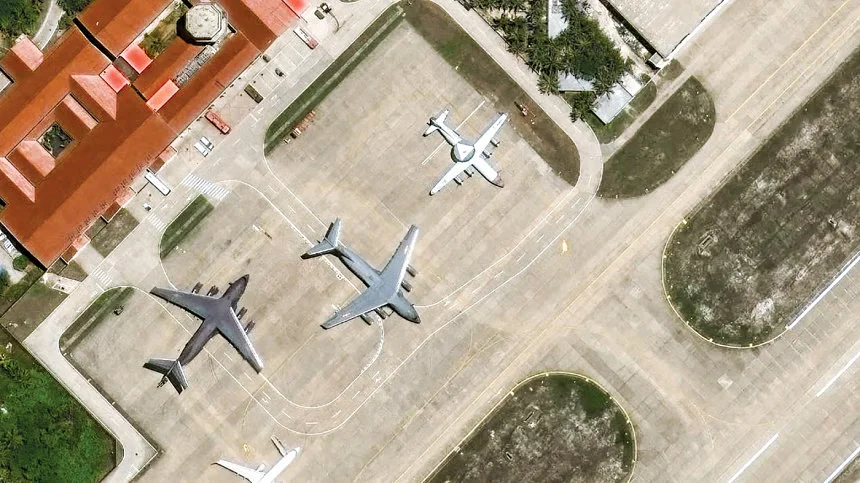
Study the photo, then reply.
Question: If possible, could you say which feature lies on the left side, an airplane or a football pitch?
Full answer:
The feature located on the left side is an airplane.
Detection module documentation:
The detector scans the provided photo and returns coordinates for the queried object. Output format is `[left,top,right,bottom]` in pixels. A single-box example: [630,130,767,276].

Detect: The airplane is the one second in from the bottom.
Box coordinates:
[149,274,262,391]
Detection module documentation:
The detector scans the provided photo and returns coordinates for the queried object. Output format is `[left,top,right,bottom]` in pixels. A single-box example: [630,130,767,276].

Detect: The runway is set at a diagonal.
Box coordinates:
[632,260,860,483]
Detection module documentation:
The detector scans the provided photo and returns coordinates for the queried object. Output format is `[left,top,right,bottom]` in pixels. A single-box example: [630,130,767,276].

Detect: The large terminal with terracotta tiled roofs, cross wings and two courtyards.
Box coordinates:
[0,0,317,270]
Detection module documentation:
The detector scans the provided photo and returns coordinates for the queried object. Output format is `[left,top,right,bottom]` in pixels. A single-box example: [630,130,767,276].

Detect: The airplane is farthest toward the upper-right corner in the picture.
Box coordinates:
[421,108,506,196]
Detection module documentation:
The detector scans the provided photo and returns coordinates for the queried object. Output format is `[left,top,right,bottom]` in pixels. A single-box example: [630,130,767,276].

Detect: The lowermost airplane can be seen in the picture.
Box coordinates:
[214,447,300,483]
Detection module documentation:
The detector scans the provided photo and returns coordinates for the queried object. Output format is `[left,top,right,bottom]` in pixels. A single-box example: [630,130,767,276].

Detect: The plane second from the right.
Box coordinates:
[304,215,421,328]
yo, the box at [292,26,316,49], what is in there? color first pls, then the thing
white bus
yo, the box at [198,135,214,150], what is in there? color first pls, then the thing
white vehicle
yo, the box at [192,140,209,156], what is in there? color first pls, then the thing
white vehicle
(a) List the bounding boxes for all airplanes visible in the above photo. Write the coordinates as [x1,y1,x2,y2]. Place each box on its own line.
[304,215,421,328]
[149,274,262,391]
[214,447,300,483]
[421,108,506,196]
